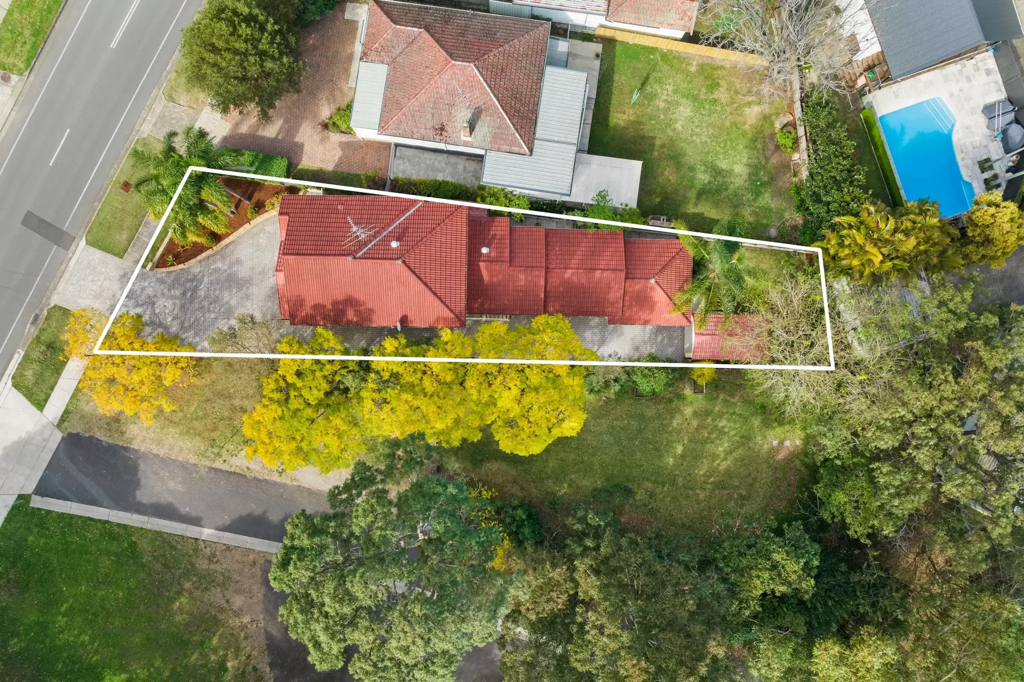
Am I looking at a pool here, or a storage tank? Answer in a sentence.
It is a pool that can be seen here.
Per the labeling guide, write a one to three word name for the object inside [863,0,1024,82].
building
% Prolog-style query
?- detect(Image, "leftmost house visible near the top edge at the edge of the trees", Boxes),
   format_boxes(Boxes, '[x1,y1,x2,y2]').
[349,0,592,200]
